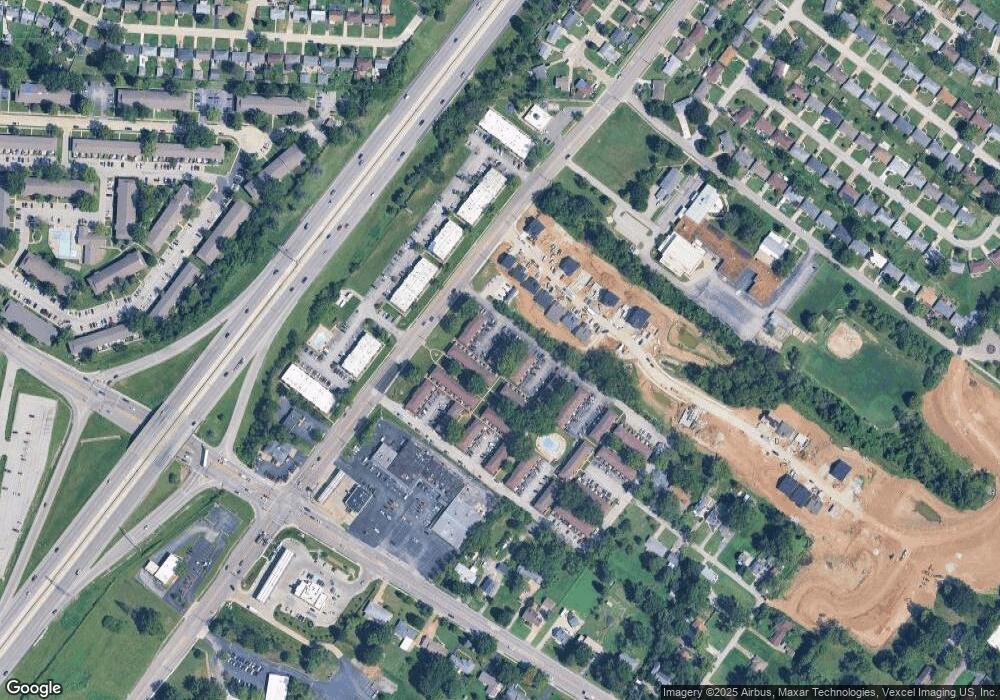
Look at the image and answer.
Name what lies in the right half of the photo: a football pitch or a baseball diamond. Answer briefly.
baseball diamond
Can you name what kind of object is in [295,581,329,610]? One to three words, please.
building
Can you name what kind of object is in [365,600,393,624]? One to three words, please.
house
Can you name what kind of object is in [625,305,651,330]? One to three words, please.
house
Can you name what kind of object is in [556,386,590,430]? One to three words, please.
building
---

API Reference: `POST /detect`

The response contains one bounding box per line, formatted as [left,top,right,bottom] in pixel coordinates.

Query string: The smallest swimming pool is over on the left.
[308,324,333,352]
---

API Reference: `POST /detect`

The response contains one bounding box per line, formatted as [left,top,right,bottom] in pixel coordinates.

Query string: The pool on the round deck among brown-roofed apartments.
[536,433,566,462]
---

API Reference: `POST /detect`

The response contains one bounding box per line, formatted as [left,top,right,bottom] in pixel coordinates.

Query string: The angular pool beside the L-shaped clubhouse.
[49,227,79,260]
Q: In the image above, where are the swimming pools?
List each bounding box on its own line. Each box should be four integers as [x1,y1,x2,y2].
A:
[536,433,566,462]
[308,324,333,352]
[49,227,79,260]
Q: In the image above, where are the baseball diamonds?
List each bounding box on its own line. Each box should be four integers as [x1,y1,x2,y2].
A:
[805,309,925,416]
